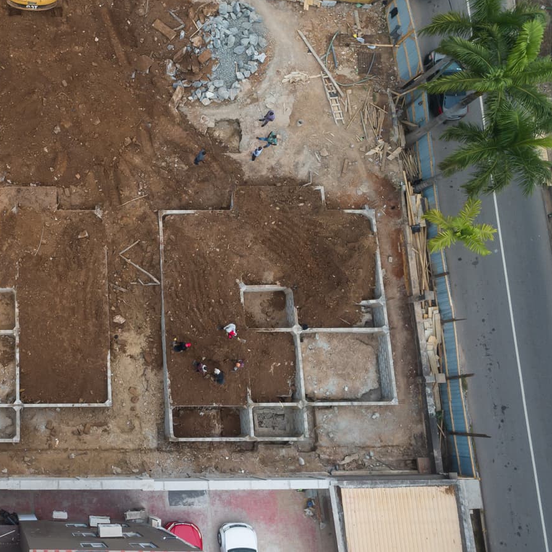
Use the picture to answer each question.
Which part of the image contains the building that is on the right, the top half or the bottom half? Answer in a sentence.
Seen from above, the building that is on the right lies in the bottom half of the view.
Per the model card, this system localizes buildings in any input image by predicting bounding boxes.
[20,521,206,552]
[323,478,485,552]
